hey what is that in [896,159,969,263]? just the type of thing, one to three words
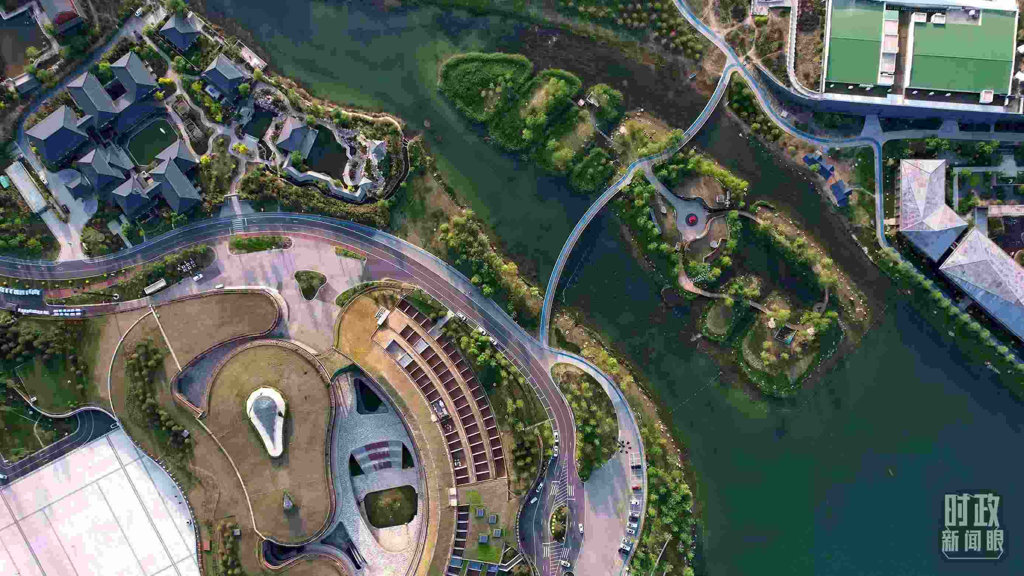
building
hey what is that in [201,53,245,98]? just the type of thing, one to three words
house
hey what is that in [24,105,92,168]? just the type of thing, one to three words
house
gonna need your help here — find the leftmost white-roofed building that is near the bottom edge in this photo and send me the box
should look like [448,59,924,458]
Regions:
[0,423,201,576]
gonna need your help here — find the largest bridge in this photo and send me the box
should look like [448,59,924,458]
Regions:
[539,61,742,348]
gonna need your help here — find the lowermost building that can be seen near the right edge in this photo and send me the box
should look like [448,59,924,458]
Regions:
[936,227,1024,340]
